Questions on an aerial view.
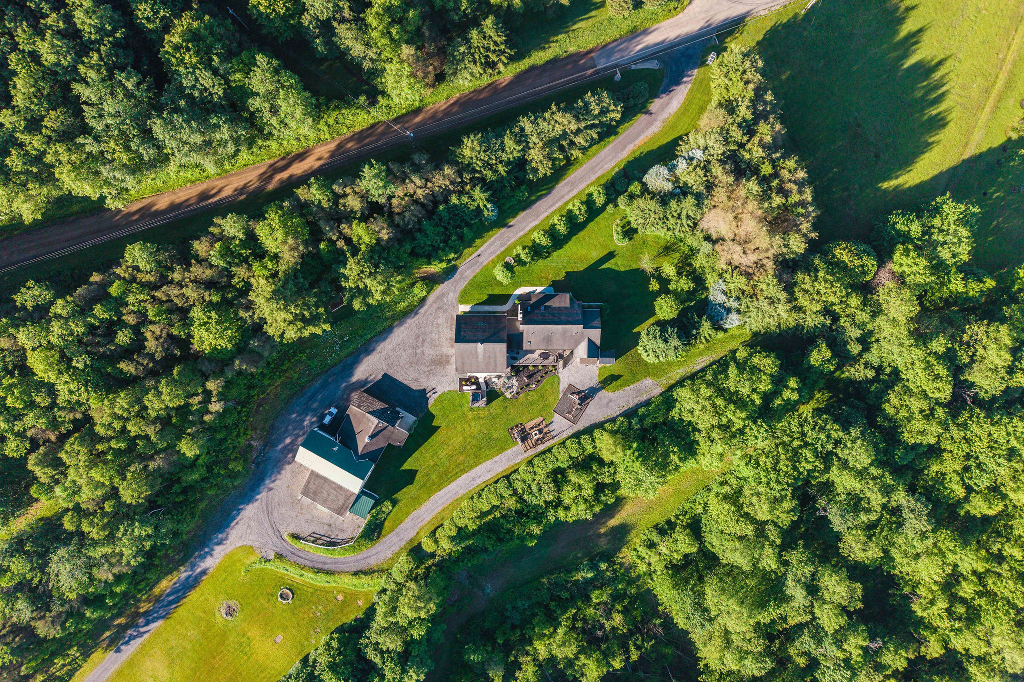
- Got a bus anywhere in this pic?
No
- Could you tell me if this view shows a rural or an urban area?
rural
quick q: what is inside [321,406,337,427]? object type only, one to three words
car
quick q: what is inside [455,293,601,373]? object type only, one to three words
house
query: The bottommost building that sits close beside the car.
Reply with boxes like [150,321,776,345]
[295,428,378,519]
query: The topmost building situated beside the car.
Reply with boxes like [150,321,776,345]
[336,390,409,464]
